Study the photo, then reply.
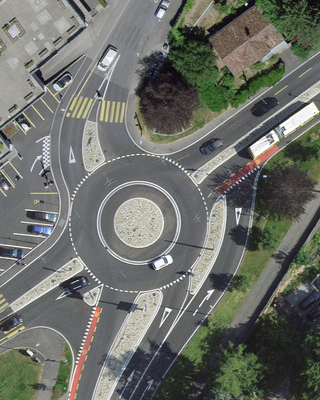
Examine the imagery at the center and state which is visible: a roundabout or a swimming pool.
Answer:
roundabout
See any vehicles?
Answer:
Yes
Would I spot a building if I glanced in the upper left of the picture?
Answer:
No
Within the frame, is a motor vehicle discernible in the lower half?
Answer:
Yes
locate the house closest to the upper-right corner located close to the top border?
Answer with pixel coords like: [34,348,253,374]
[210,5,286,77]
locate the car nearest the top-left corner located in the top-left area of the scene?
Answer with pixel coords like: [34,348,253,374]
[53,72,74,90]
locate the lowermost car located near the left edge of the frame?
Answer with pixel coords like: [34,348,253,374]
[0,314,24,331]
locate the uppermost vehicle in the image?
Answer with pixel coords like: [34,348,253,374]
[154,0,170,20]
